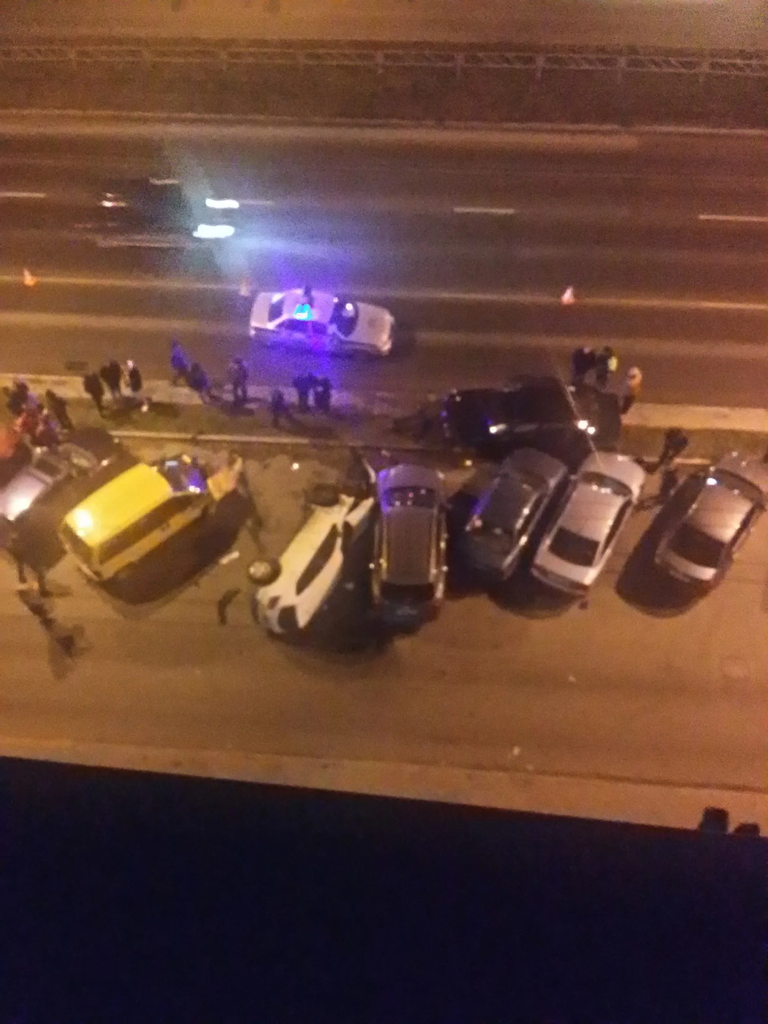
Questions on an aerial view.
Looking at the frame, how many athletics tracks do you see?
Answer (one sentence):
There are no athletics tracks in the image.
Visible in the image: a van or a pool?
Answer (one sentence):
This aerial view contains a van.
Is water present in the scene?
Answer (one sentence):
No, the picture contains no water.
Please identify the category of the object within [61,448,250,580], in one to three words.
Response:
van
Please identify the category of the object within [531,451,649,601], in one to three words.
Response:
car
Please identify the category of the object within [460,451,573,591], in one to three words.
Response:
car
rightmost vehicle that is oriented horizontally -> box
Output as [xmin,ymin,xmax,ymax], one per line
[437,380,621,468]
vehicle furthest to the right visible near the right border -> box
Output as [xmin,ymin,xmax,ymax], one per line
[656,451,768,593]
